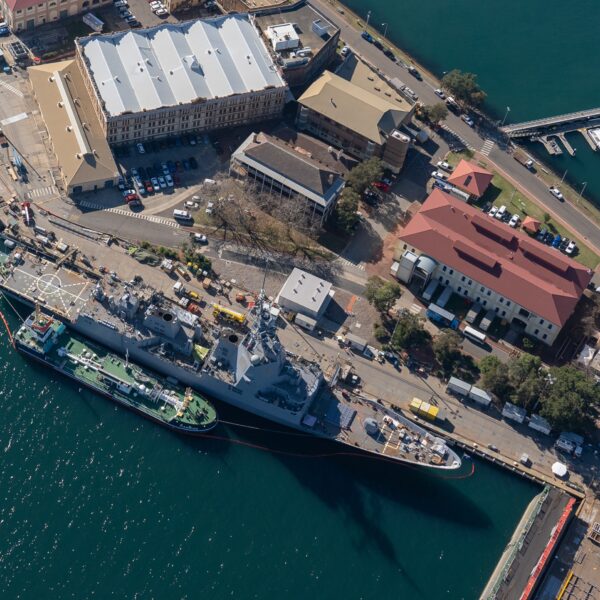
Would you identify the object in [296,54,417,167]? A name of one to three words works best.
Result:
building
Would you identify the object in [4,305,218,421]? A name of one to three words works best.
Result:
ship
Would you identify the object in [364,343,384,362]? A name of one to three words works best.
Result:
vehicle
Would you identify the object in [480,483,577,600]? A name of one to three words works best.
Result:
pier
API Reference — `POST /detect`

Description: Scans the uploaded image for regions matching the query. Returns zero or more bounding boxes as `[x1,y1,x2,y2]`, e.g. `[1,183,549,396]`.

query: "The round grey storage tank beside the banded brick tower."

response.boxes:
[400,121,430,154]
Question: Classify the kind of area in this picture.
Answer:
port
